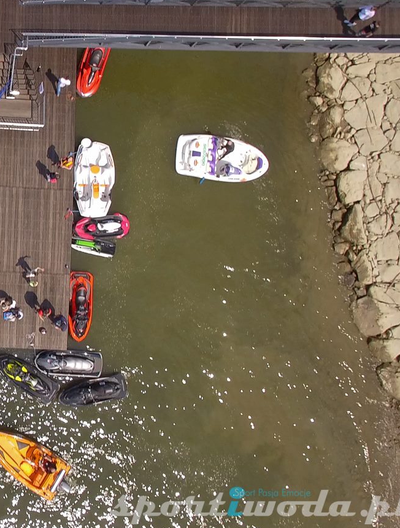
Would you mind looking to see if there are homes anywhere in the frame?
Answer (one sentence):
No, there is no home in the image.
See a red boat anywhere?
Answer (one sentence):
Yes, there is a red boat in the image.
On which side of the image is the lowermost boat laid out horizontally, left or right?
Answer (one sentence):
It is on the left.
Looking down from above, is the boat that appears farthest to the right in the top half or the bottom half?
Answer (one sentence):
The boat that appears farthest to the right is in the top half of the image.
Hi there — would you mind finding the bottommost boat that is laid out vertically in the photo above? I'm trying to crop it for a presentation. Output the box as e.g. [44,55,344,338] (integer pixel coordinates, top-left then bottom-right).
[69,270,95,342]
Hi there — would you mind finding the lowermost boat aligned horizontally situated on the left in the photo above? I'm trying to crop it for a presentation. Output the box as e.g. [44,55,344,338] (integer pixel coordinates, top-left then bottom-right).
[57,370,131,406]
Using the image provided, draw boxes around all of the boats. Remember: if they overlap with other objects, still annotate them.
[69,270,95,342]
[80,51,114,98]
[70,140,115,217]
[57,370,131,406]
[170,136,269,184]
[74,214,131,239]
[34,350,103,377]
[71,237,117,259]
[0,355,62,410]
[0,428,74,499]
